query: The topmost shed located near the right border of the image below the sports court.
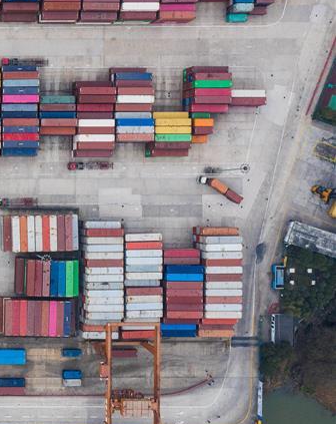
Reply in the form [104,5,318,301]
[279,220,336,258]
